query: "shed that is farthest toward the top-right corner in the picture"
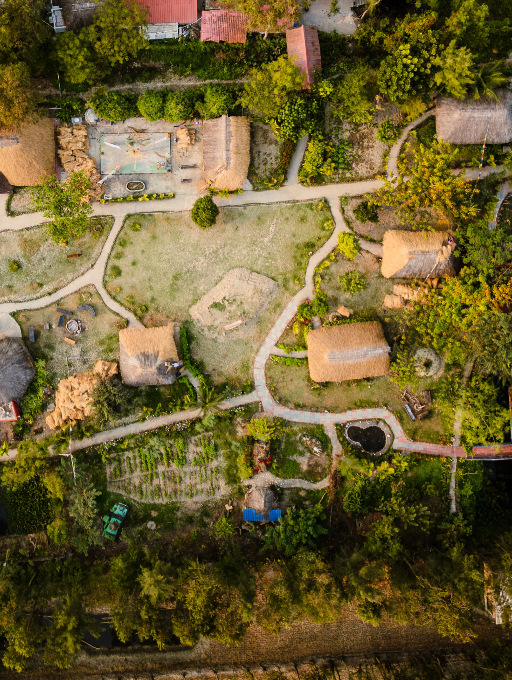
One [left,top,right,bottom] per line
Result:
[434,89,512,145]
